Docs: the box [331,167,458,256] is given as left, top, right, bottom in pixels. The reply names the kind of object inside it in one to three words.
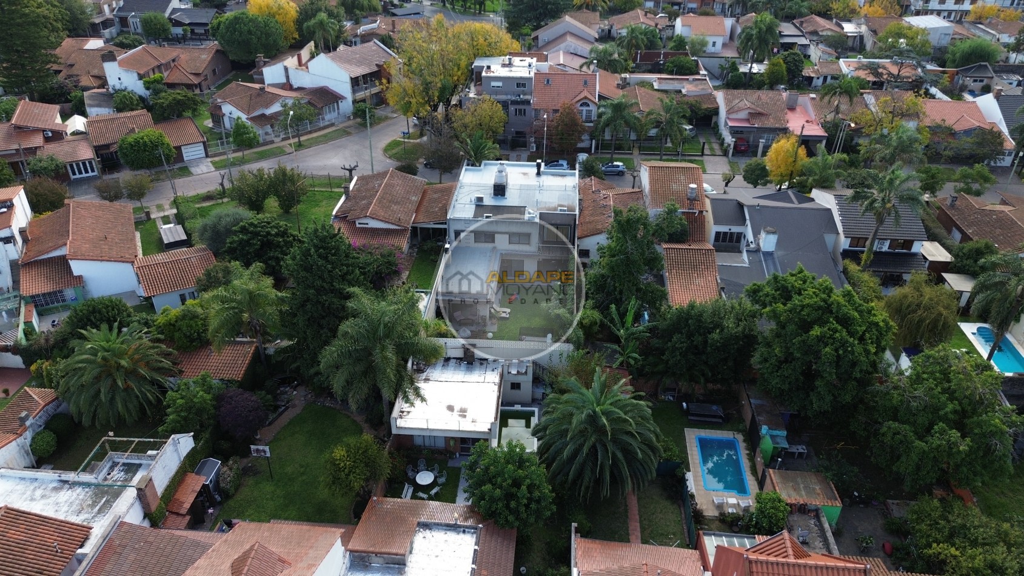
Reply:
house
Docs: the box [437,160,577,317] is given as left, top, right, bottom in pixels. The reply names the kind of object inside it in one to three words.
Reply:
house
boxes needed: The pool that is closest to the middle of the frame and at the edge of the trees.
[499,408,536,451]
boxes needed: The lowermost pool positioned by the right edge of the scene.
[971,326,1024,374]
